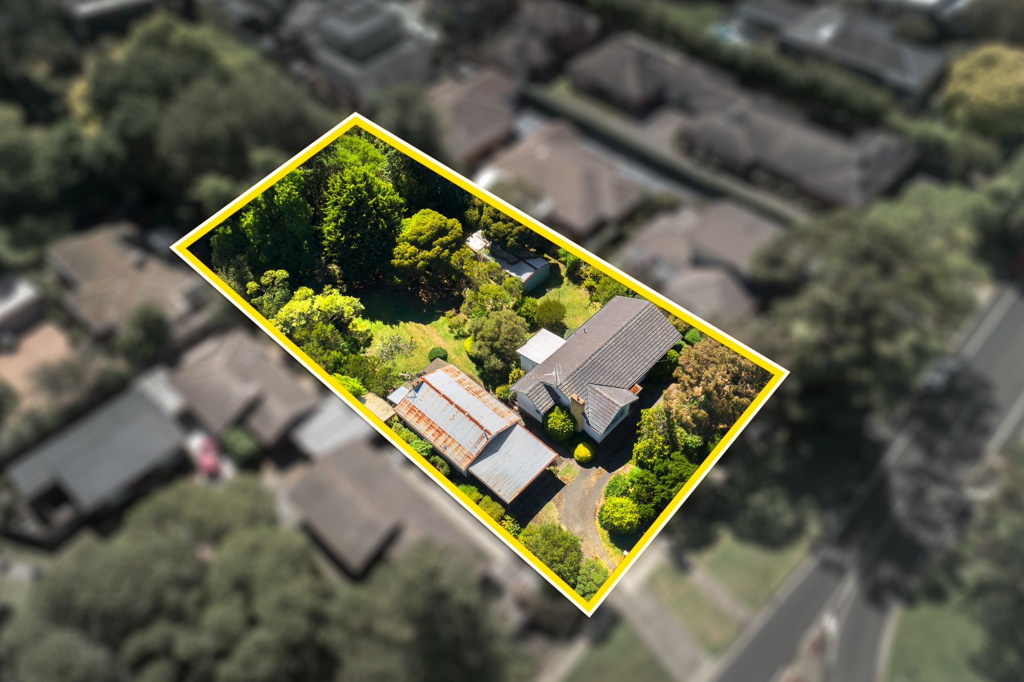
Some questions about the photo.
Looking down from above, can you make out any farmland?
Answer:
No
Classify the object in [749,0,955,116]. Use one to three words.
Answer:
house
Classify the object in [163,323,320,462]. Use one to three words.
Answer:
house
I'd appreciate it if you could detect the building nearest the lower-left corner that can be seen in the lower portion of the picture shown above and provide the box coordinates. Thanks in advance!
[4,379,193,547]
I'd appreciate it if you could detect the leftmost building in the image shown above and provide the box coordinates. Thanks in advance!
[0,252,48,338]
